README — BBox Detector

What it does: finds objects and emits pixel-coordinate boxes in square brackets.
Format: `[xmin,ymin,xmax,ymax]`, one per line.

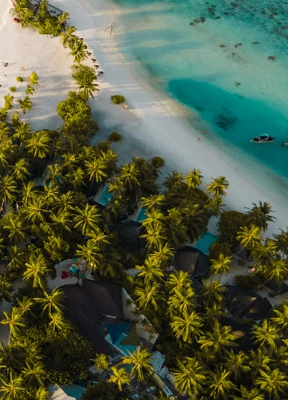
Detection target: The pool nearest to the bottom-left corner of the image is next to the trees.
[115,334,139,360]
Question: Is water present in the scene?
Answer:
Yes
